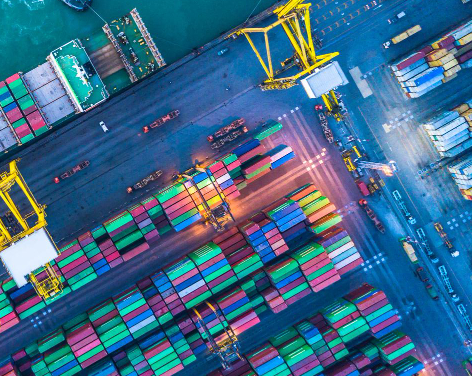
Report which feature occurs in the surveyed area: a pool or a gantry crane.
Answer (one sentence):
The one in the frame is a gantry crane.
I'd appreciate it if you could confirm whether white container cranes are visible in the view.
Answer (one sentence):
Yes, this view includes a white container crane.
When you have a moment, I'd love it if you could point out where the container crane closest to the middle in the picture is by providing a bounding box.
[180,157,243,230]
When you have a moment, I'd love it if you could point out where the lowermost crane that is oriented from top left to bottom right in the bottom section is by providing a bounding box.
[189,296,245,367]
